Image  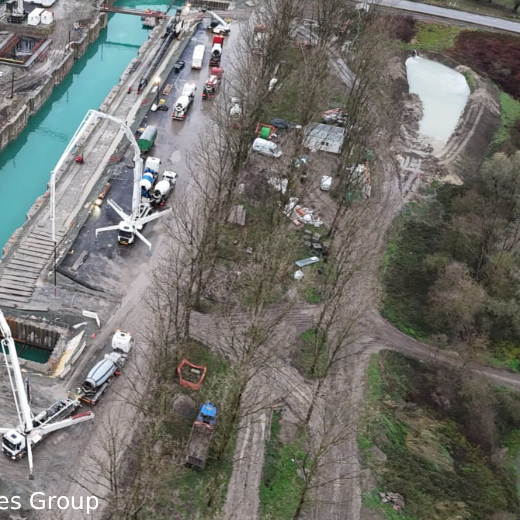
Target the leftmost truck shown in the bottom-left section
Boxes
[0,315,96,484]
